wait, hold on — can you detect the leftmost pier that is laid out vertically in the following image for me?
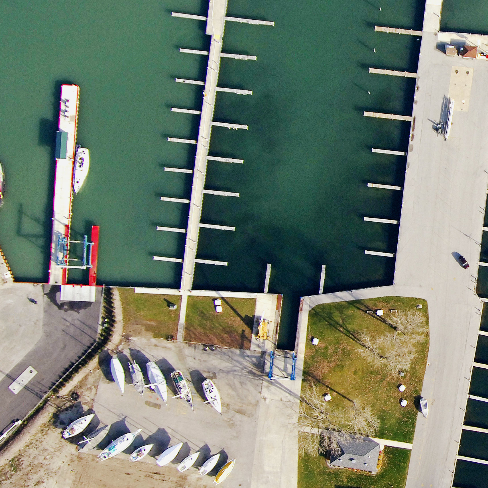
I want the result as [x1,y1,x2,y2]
[48,85,81,284]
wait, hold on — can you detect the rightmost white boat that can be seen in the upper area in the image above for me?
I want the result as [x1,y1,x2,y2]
[74,148,90,194]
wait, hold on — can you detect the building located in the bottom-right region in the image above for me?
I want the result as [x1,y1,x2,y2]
[330,438,380,473]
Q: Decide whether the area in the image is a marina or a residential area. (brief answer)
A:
marina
